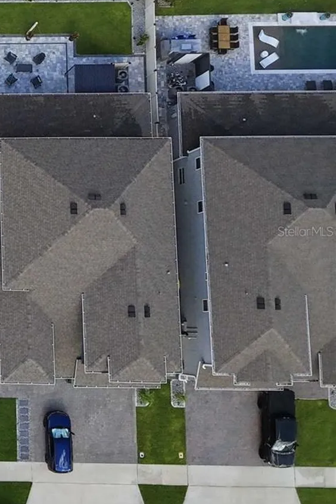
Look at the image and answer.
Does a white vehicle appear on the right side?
No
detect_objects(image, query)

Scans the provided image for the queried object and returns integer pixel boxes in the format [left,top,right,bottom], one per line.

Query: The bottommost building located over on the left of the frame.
[0,90,183,389]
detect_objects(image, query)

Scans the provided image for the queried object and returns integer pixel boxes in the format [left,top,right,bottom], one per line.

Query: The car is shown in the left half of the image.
[42,409,76,475]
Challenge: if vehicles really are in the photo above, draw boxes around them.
[42,409,76,475]
[259,388,299,468]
